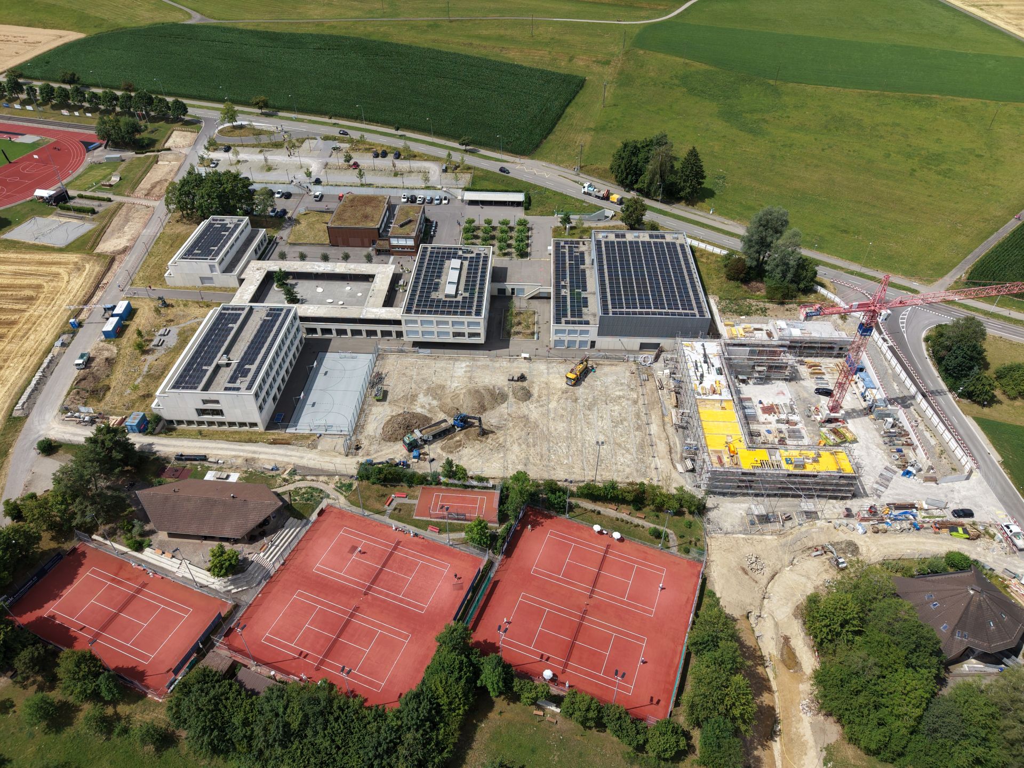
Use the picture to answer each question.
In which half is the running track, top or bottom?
top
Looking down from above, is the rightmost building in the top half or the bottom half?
bottom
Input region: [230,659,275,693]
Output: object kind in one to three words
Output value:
shed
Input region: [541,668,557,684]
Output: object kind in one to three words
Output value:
umbrella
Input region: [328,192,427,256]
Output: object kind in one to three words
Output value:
building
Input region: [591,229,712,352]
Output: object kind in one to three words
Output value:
building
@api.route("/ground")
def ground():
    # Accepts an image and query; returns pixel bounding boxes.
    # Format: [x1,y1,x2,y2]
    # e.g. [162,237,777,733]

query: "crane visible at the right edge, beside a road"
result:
[806,270,1024,428]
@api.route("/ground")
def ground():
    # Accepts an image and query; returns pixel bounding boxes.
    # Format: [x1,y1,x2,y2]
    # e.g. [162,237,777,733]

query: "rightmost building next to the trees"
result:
[893,565,1024,657]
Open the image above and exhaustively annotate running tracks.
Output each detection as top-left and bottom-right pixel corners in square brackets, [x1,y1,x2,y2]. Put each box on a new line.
[0,123,106,210]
